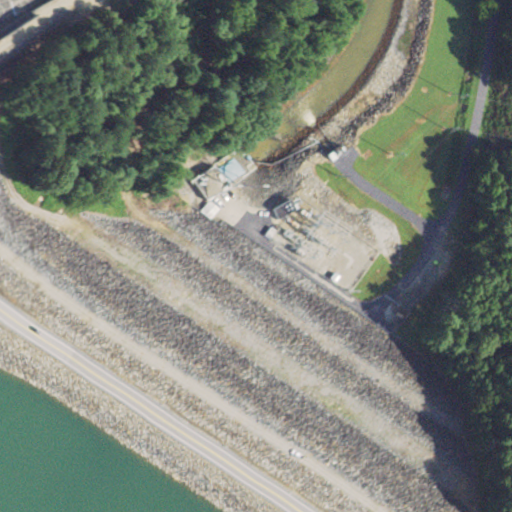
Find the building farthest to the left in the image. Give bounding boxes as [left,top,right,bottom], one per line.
[188,153,256,220]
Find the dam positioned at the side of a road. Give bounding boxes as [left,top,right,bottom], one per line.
[0,172,482,512]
